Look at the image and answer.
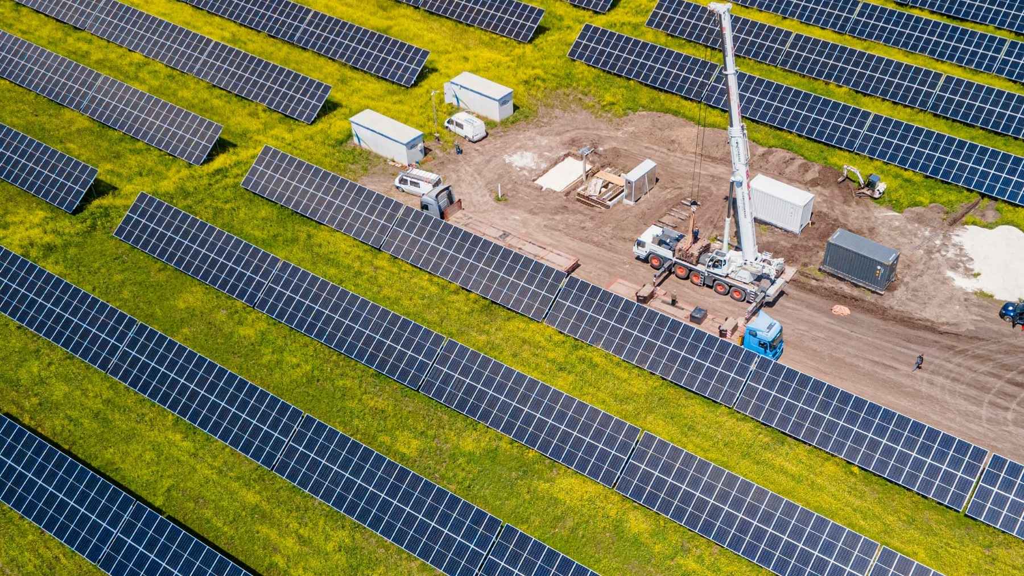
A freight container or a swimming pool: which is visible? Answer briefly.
freight container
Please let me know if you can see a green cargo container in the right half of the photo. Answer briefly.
No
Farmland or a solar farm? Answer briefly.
solar farm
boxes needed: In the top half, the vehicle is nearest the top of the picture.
[441,108,488,141]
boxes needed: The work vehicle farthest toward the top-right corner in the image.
[840,162,886,205]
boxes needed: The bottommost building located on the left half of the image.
[351,111,425,163]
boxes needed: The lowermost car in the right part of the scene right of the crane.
[998,301,1024,327]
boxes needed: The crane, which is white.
[633,4,787,326]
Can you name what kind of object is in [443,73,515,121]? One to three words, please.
building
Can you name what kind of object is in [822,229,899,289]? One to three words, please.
shipping container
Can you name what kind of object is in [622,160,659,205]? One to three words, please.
shed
